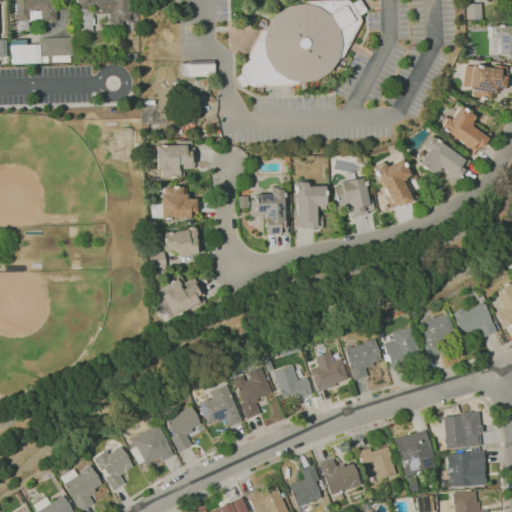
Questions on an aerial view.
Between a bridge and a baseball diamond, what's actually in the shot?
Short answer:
baseball diamond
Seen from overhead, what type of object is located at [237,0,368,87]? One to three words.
building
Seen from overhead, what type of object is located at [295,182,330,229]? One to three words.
house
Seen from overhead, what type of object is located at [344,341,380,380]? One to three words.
house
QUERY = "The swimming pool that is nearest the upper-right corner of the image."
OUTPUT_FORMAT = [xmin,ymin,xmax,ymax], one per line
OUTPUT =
[410,129,430,150]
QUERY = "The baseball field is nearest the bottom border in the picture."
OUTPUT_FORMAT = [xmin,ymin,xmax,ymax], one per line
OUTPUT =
[0,270,110,400]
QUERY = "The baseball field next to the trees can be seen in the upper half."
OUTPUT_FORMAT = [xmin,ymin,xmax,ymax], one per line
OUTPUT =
[0,113,107,226]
